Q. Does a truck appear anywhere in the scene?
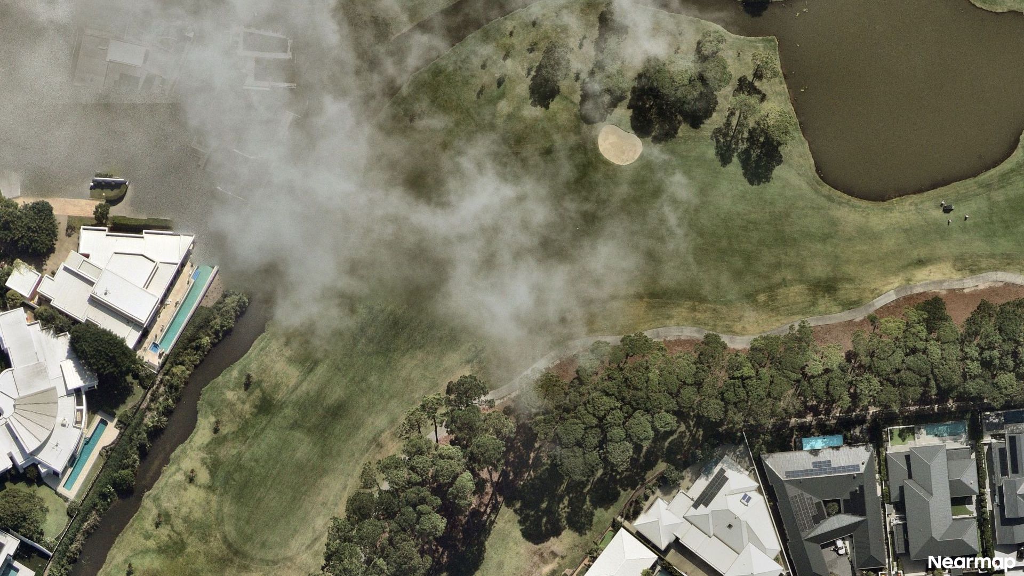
No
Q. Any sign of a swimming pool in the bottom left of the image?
Yes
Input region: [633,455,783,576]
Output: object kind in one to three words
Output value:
house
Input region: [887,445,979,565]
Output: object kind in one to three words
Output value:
house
